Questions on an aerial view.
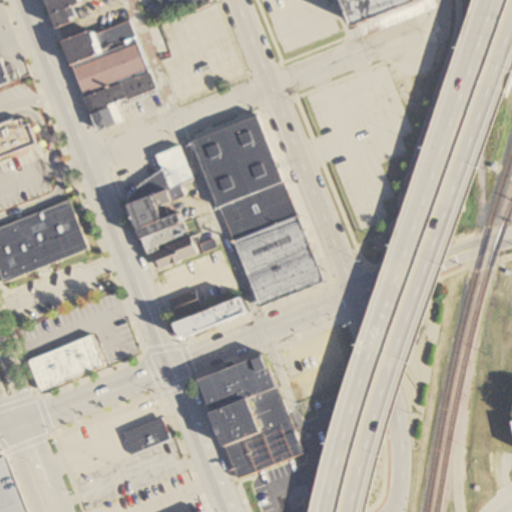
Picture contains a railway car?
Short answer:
No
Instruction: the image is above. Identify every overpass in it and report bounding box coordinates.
[333,0,512,512]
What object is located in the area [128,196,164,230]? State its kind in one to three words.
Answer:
building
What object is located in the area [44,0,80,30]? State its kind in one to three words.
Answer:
building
